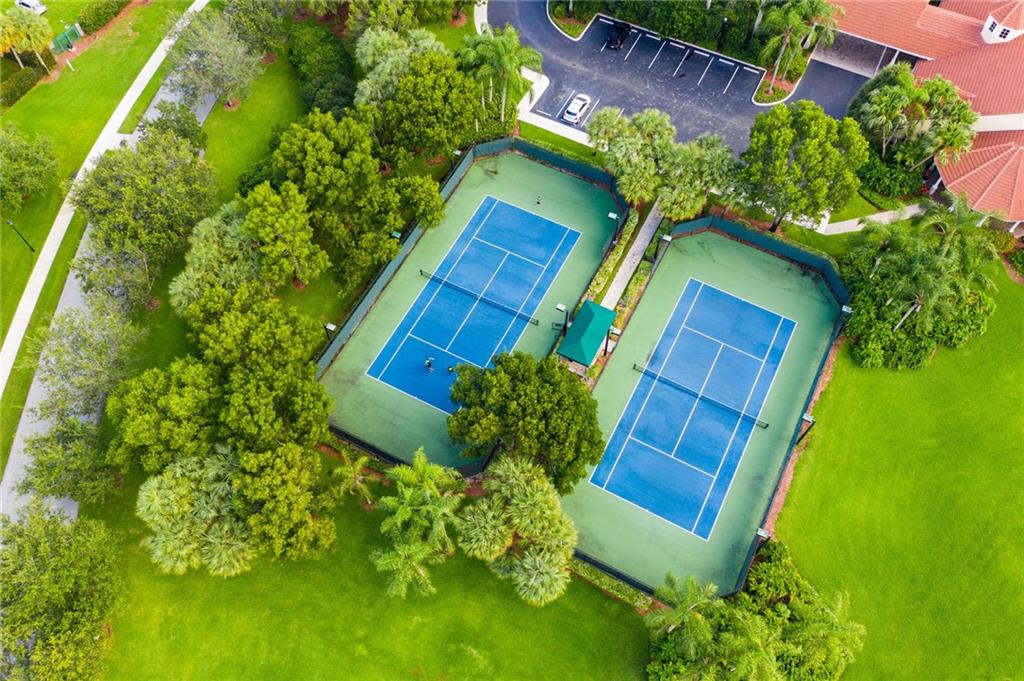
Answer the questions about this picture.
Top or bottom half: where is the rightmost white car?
top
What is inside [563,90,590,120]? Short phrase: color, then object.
white car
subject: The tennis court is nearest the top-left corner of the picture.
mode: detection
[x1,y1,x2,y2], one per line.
[312,149,631,493]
